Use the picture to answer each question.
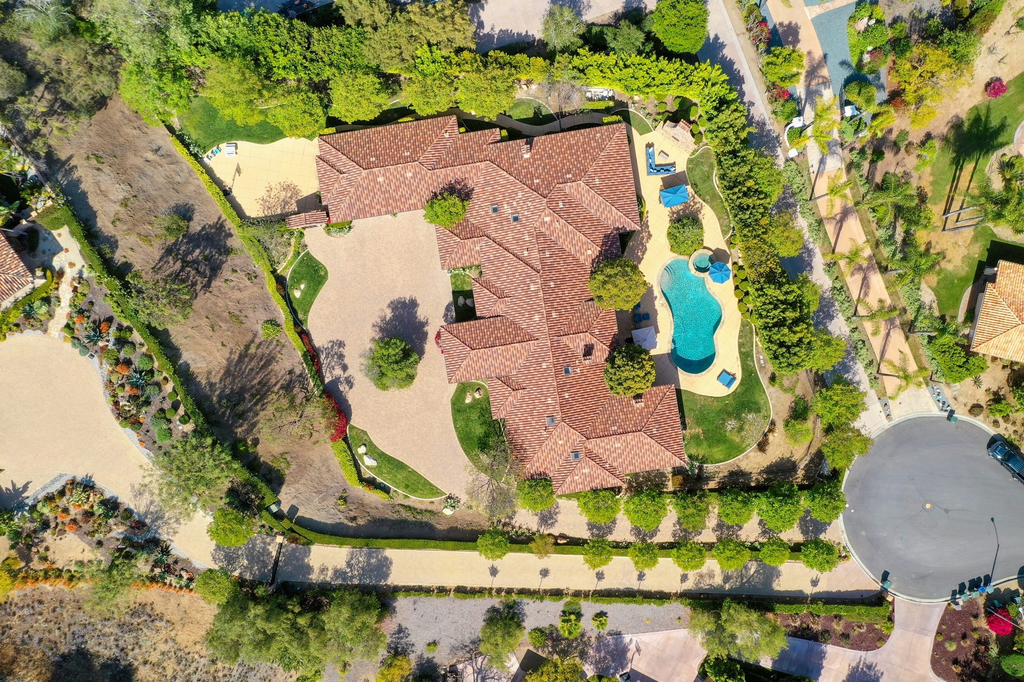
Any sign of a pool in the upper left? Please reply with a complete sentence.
No, I can find no pool in the upper left.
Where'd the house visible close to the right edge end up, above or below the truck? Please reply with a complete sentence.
From this view, the house visible close to the right edge can be seen above the truck.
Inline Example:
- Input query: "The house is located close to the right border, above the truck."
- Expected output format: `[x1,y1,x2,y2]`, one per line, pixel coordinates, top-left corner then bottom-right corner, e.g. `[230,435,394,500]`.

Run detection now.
[958,259,1024,363]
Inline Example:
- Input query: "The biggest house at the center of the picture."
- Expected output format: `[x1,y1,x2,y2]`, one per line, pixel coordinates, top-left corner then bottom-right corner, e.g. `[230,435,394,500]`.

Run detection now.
[315,115,687,496]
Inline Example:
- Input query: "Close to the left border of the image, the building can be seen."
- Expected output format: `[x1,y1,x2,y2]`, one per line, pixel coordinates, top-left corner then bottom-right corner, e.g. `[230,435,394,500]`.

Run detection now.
[0,222,43,314]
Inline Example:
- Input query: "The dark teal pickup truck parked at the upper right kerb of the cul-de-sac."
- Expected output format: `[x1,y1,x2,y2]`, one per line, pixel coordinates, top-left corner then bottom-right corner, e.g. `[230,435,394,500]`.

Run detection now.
[993,445,1024,484]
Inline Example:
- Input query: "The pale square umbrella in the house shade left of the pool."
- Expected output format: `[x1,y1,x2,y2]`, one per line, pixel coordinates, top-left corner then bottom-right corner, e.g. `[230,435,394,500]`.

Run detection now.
[632,327,657,349]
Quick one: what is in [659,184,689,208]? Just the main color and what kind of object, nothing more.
blue umbrella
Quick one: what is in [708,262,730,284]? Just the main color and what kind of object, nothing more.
blue umbrella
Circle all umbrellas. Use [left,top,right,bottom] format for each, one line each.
[708,262,730,284]
[659,184,689,208]
[632,327,657,349]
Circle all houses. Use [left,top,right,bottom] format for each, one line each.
[0,222,43,314]
[958,259,1024,363]
[315,115,687,496]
